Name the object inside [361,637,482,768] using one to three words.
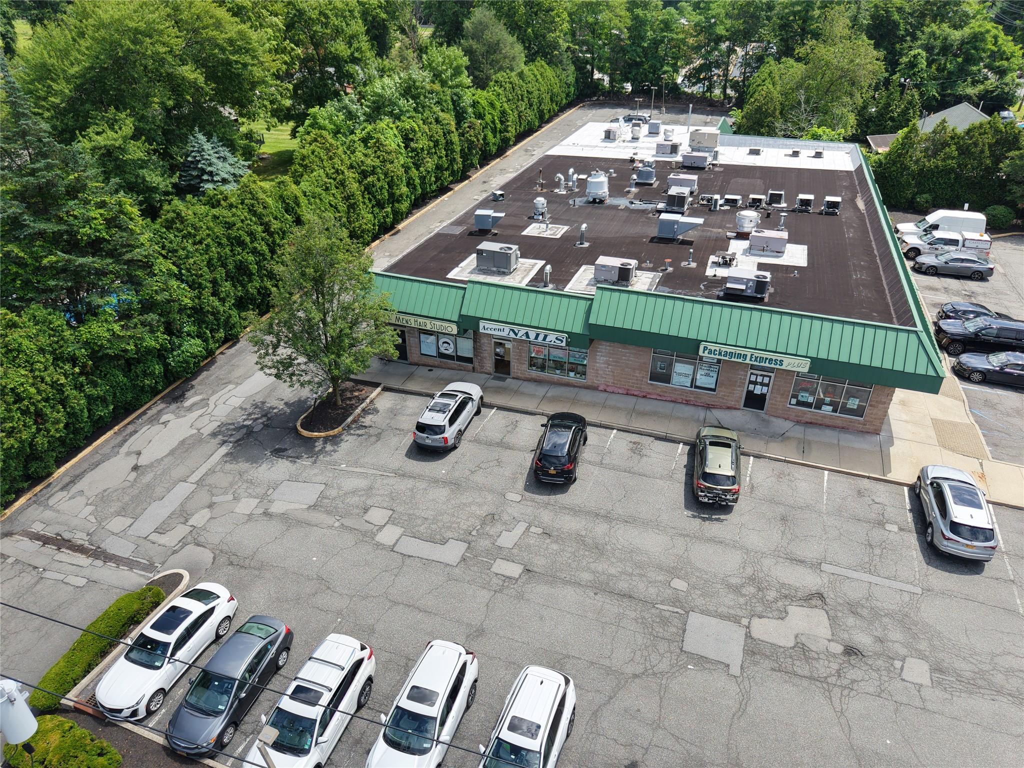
car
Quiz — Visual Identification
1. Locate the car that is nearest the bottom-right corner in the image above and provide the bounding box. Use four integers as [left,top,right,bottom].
[913,468,1001,568]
